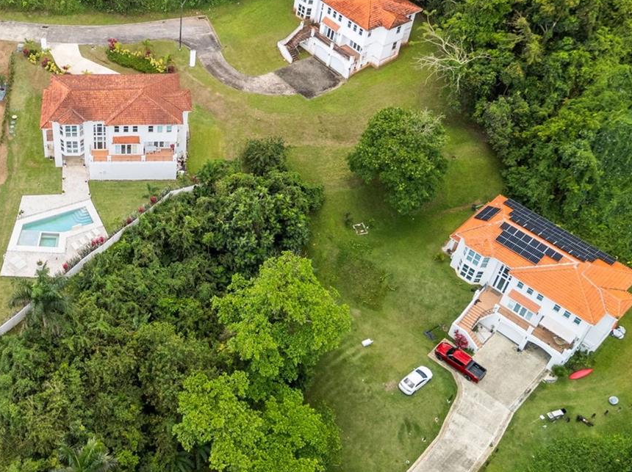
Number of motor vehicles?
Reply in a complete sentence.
I count 2 motor vehicles.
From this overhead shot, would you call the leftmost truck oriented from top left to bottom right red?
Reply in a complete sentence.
Yes, the leftmost truck oriented from top left to bottom right is indeed red.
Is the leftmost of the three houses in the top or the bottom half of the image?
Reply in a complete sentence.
The leftmost of the three houses sits in the top half of the picture.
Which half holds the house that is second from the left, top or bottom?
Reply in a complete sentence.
The house that is second from the left sits in the top half of the picture.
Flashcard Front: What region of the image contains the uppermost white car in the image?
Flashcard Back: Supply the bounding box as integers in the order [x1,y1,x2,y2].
[399,364,433,395]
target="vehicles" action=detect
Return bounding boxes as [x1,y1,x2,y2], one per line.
[399,364,433,395]
[436,340,488,382]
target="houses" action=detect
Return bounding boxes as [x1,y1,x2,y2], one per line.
[287,0,422,76]
[43,73,193,181]
[441,194,632,372]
